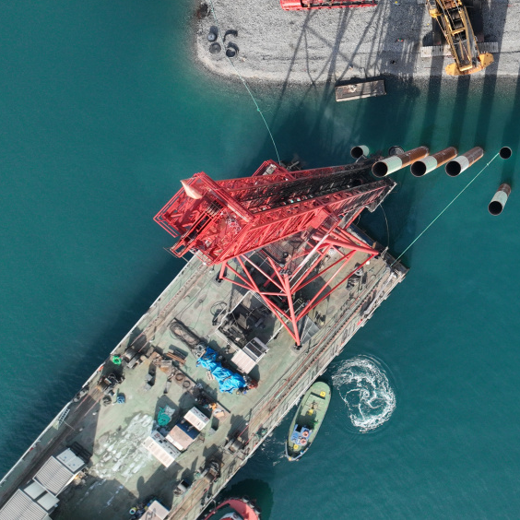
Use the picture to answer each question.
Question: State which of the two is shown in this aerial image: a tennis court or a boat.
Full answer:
I can see a boat in this picture.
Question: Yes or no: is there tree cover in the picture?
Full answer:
No, tree cover can't be seen anywhere here.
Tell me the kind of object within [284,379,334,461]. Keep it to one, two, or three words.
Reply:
boat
